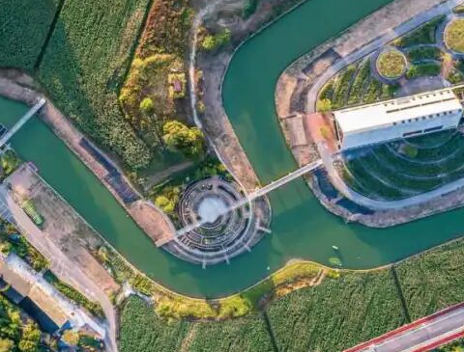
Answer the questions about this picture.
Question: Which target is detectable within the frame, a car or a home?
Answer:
home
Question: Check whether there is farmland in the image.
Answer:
Yes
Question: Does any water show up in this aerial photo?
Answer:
Yes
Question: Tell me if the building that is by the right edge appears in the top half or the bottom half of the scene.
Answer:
top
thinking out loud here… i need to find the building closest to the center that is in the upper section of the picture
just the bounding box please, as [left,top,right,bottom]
[286,114,307,148]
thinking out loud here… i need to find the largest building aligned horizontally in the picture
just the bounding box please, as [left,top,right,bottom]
[329,88,463,150]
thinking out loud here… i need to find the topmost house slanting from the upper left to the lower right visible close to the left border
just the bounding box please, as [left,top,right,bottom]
[0,260,32,297]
